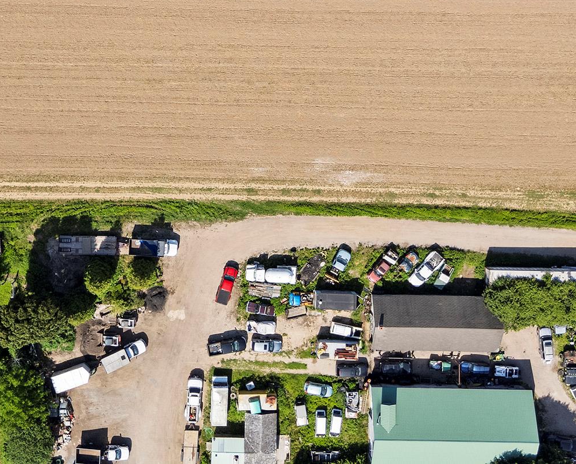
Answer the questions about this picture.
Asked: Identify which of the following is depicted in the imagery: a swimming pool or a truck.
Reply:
truck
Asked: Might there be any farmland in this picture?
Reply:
Yes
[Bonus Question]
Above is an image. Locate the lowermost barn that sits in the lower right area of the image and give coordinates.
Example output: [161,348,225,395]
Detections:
[367,379,539,464]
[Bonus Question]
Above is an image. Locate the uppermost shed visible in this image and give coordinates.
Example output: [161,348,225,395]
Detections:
[371,293,502,352]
